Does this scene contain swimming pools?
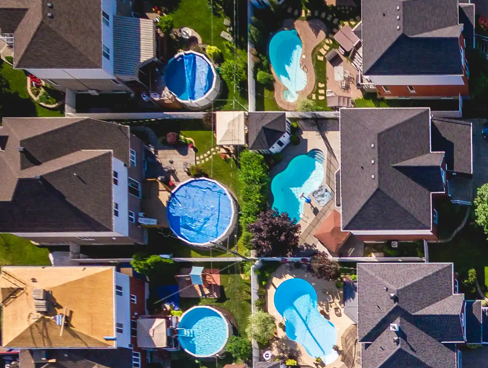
Yes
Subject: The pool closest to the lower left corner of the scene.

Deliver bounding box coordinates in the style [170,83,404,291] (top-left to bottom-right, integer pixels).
[175,306,233,356]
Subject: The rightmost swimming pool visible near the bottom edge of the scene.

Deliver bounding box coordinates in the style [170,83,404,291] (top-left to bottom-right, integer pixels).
[271,275,341,361]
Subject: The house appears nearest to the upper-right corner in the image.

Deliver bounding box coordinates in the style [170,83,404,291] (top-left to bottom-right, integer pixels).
[361,0,477,97]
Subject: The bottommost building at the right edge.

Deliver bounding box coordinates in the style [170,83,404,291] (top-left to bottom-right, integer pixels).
[356,262,483,368]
